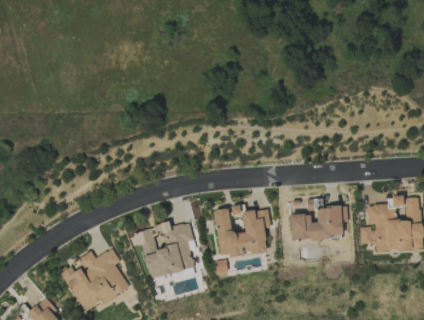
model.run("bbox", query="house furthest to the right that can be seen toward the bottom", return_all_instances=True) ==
[360,196,424,255]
